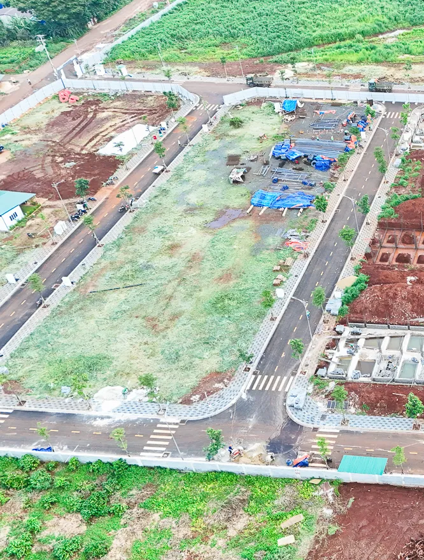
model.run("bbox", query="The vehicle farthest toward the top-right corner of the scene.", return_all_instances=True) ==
[366,79,393,91]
